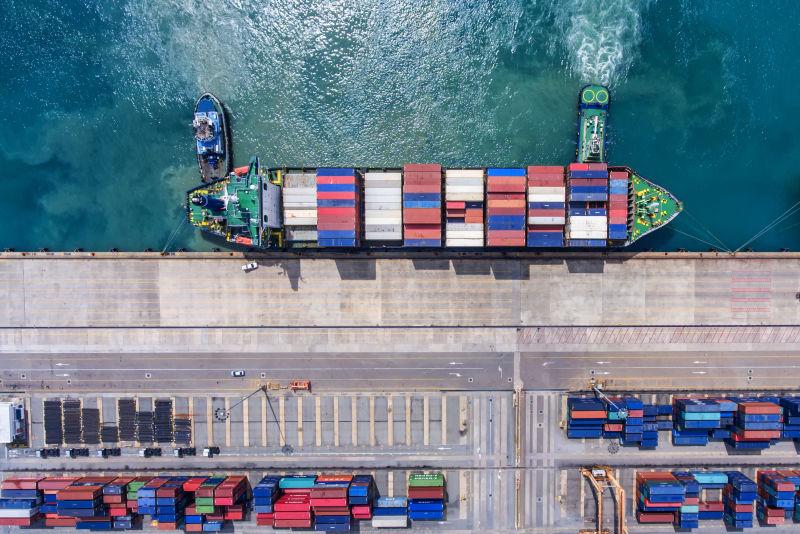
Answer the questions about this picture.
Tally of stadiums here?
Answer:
0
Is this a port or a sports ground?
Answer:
port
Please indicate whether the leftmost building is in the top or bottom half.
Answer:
bottom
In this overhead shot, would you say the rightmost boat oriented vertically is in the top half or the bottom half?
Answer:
top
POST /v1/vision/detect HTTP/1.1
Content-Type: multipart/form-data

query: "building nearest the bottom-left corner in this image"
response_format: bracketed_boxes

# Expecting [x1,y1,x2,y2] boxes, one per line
[0,400,33,446]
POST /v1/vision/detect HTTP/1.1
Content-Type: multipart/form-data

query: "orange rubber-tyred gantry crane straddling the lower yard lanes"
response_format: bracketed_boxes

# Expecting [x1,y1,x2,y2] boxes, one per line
[580,468,627,534]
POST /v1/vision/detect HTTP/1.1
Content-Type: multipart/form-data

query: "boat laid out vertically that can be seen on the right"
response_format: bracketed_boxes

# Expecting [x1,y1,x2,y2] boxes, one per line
[574,83,610,164]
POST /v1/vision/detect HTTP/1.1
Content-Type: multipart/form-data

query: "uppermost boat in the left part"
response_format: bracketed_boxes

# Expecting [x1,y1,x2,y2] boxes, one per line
[192,91,230,183]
